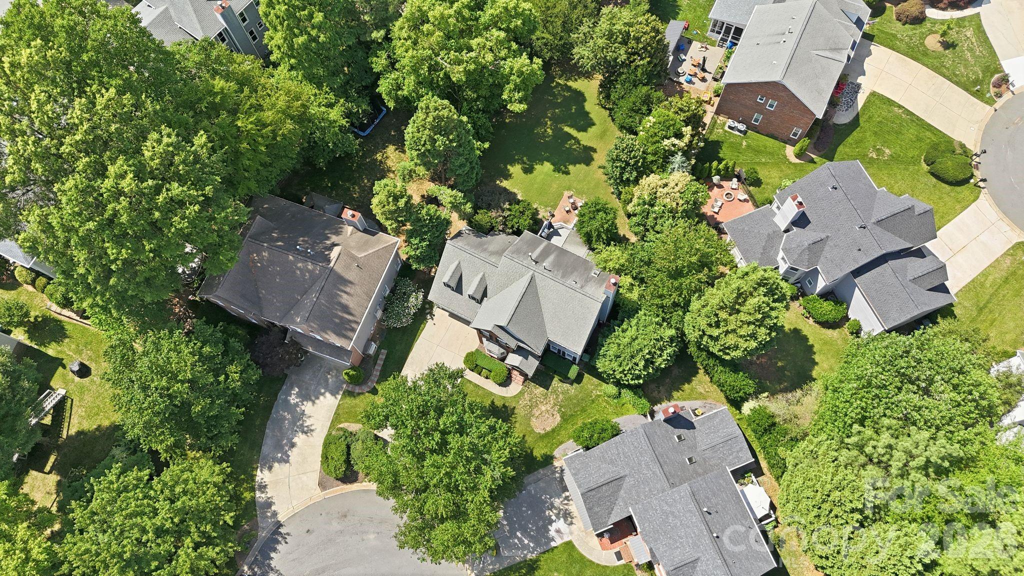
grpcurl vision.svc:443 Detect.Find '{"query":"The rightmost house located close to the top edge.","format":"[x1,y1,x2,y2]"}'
[705,0,871,148]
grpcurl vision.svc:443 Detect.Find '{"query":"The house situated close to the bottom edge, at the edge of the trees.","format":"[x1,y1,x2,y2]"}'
[562,403,779,576]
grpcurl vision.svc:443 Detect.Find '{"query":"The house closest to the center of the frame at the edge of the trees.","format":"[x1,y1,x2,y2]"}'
[427,217,622,391]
